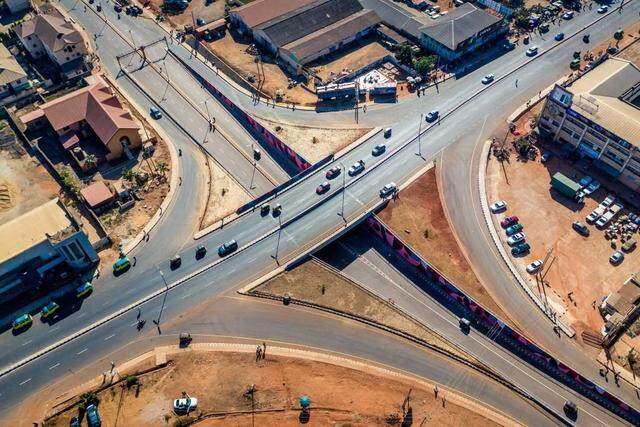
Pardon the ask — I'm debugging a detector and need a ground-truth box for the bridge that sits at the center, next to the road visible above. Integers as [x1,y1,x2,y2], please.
[239,153,395,266]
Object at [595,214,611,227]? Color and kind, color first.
white vehicle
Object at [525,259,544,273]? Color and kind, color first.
white vehicle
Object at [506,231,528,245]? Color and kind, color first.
white car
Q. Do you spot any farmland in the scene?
No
